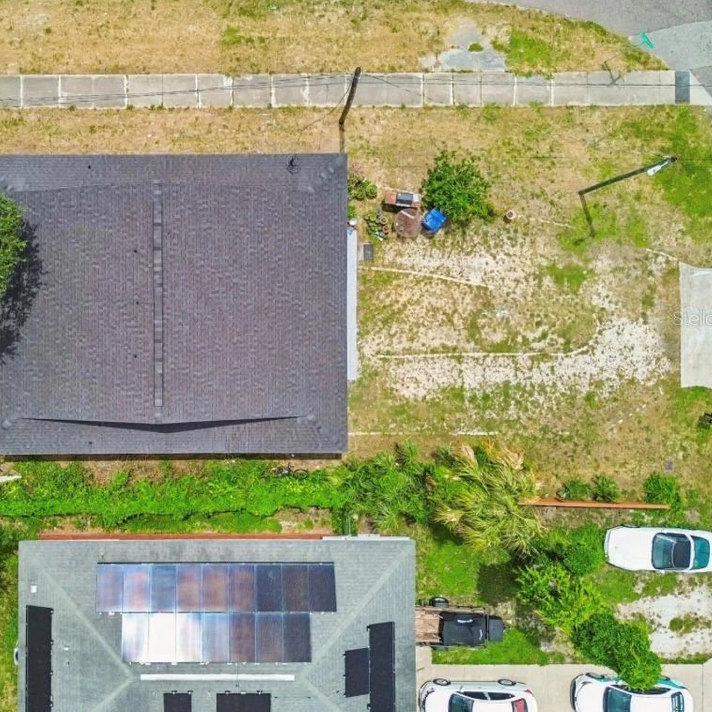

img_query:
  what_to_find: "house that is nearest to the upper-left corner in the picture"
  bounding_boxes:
[0,153,350,456]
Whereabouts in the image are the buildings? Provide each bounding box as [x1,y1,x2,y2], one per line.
[0,153,350,456]
[17,529,417,712]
